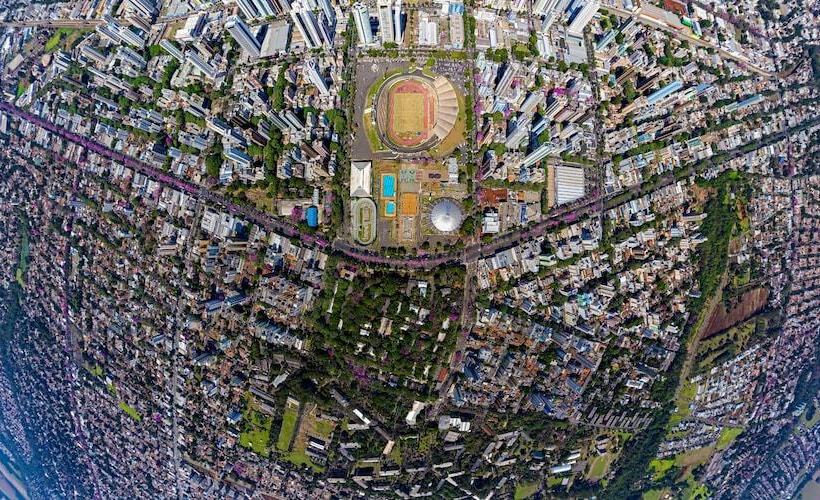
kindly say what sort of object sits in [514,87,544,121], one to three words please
building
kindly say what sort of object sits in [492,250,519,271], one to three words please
building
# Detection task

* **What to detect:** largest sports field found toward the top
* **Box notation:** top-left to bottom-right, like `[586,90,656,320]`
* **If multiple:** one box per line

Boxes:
[395,93,425,135]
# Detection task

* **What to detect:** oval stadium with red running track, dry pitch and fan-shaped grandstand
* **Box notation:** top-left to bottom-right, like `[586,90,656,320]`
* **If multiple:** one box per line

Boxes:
[363,62,460,154]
